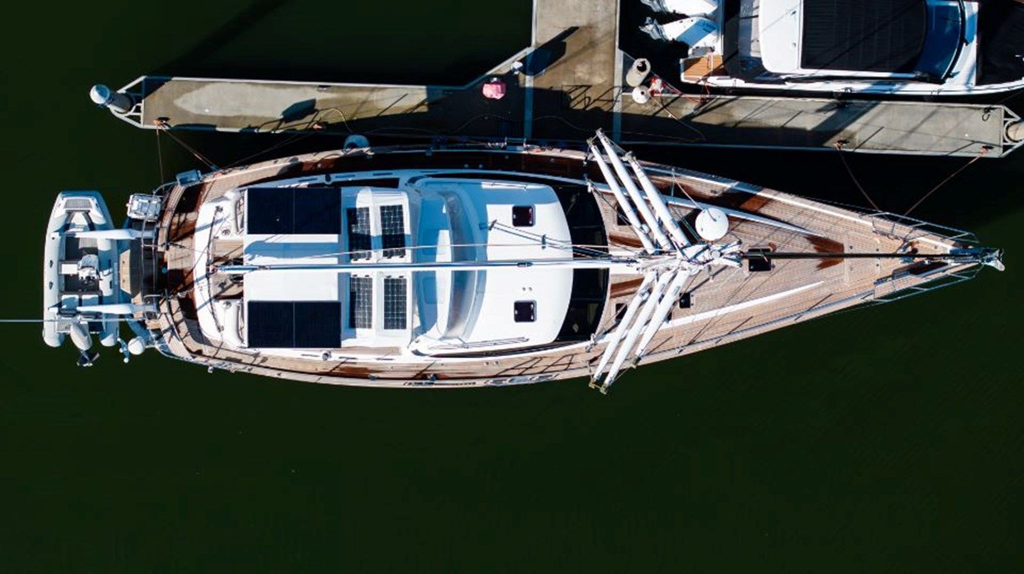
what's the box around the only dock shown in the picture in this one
[111,0,1024,158]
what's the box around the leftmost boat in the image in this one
[44,189,120,368]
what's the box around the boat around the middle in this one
[50,124,1005,398]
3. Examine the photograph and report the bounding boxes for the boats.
[50,124,1005,398]
[644,0,1024,95]
[44,189,120,368]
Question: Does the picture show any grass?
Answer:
No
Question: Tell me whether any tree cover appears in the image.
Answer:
No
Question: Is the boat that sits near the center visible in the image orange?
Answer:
No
